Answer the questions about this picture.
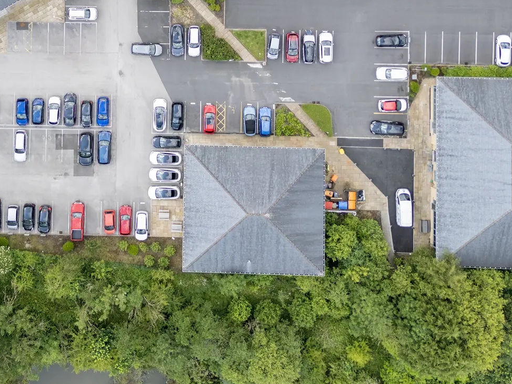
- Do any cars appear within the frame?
Yes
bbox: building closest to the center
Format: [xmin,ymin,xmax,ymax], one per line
[181,143,327,277]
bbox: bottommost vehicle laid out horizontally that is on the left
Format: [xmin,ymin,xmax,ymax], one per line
[148,185,180,201]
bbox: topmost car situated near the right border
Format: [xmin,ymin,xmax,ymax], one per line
[495,34,512,66]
